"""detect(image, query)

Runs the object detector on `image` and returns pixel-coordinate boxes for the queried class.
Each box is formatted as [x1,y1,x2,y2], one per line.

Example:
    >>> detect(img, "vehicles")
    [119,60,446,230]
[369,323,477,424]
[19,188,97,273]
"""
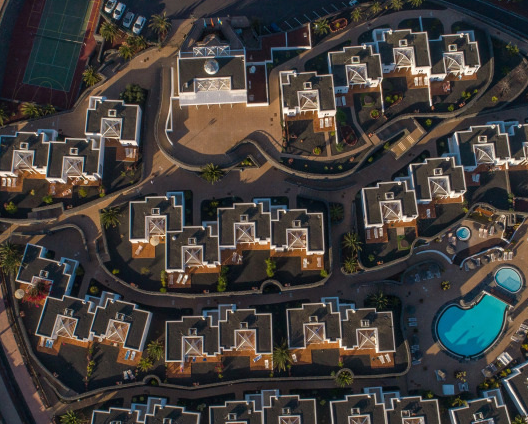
[132,14,147,33]
[112,2,127,19]
[120,9,136,28]
[103,0,118,13]
[345,0,362,9]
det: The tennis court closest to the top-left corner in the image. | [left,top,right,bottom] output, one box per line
[0,0,100,106]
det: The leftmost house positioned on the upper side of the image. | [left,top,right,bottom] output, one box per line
[0,126,58,192]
